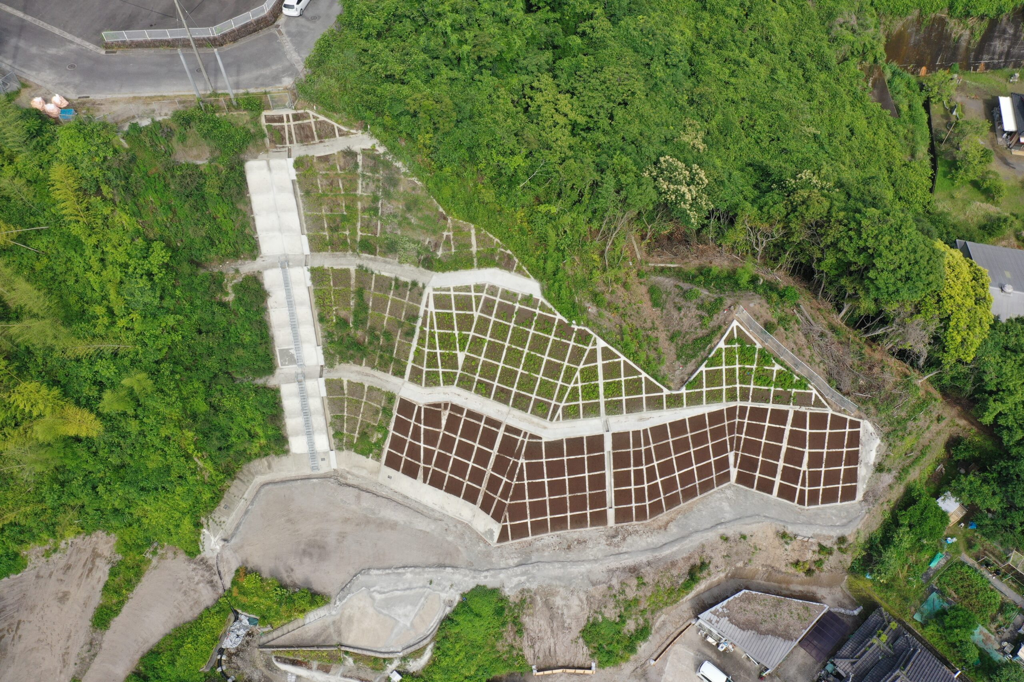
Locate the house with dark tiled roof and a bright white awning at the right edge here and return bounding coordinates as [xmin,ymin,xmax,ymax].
[994,92,1024,158]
